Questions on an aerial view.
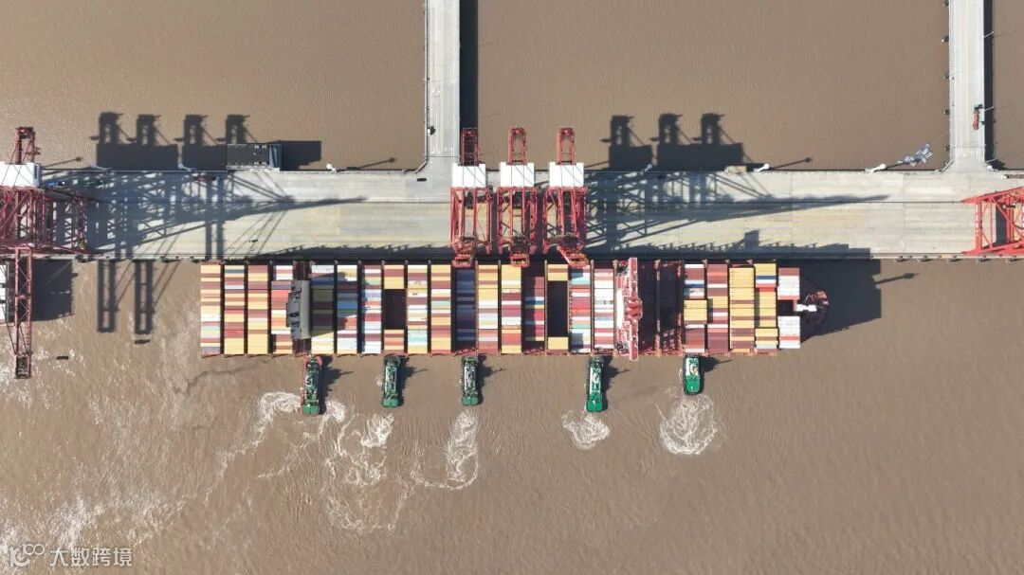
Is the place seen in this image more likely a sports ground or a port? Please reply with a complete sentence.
What you see here is a port.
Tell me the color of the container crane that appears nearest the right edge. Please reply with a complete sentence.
The container crane that appears nearest the right edge looks red in the image.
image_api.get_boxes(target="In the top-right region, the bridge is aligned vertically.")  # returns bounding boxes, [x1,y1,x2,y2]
[941,0,990,171]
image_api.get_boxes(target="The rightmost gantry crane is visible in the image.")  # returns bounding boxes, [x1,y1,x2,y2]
[958,189,1024,254]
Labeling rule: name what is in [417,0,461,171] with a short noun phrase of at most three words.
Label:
bridge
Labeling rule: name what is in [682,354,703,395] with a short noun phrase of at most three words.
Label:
boat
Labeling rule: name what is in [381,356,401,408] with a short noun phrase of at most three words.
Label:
boat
